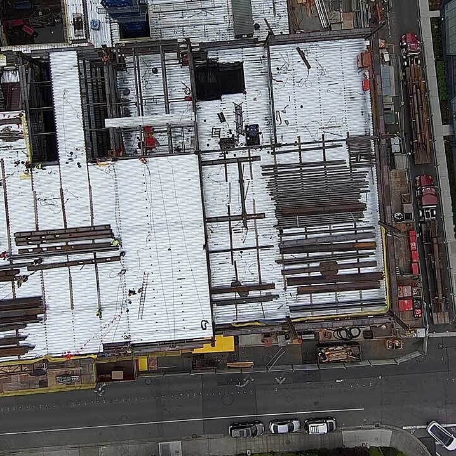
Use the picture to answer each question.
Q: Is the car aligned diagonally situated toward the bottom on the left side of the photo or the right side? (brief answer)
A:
right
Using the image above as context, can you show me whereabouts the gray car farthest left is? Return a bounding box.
[229,419,264,437]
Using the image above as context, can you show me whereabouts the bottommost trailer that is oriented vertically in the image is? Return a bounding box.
[418,210,450,321]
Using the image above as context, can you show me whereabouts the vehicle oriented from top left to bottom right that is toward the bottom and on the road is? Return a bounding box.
[423,419,456,451]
